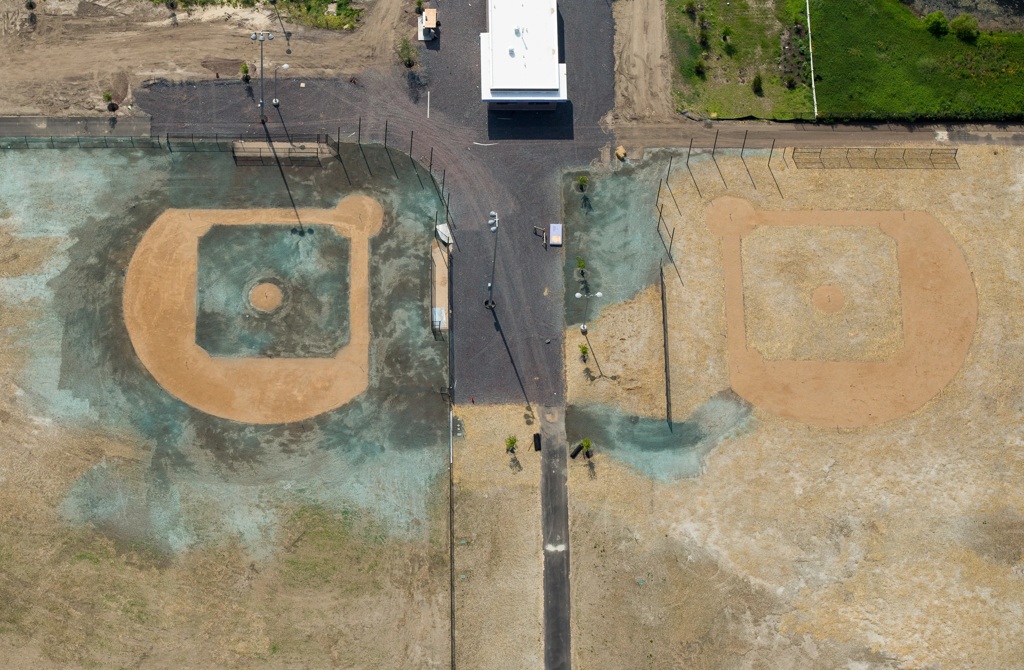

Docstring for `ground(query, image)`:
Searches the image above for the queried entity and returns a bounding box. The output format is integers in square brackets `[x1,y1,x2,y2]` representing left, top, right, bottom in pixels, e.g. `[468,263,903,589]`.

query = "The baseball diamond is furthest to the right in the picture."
[705,196,977,428]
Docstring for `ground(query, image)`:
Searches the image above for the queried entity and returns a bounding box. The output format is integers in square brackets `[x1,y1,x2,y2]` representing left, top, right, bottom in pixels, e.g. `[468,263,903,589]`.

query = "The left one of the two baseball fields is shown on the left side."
[124,195,382,424]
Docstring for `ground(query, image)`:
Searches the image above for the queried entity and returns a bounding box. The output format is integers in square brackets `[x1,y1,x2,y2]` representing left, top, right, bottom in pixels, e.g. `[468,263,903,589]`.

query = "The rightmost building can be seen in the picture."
[479,0,567,110]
